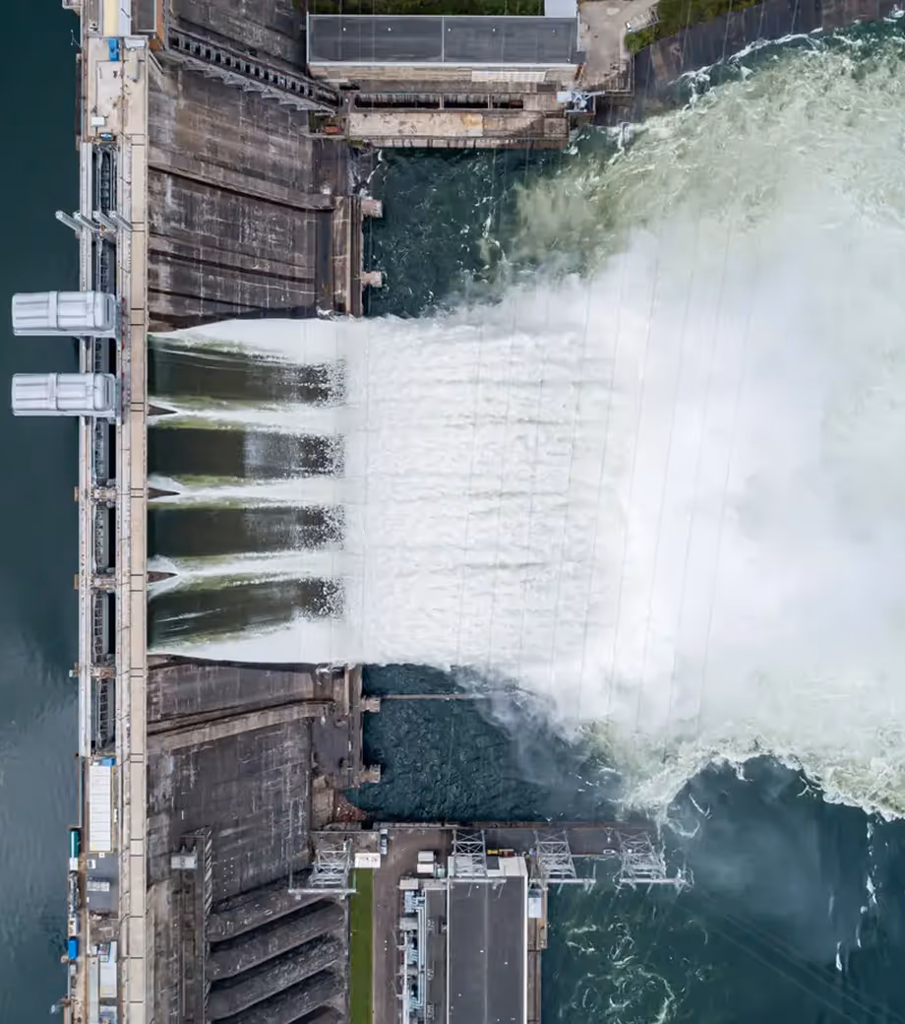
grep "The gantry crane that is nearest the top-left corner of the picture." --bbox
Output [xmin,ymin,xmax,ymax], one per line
[11,291,127,351]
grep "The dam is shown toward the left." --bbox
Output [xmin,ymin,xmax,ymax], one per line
[61,0,383,1024]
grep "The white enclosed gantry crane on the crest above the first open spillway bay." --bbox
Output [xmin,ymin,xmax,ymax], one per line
[11,370,127,428]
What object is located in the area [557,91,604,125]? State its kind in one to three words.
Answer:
crane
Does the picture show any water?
Yes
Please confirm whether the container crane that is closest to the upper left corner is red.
No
